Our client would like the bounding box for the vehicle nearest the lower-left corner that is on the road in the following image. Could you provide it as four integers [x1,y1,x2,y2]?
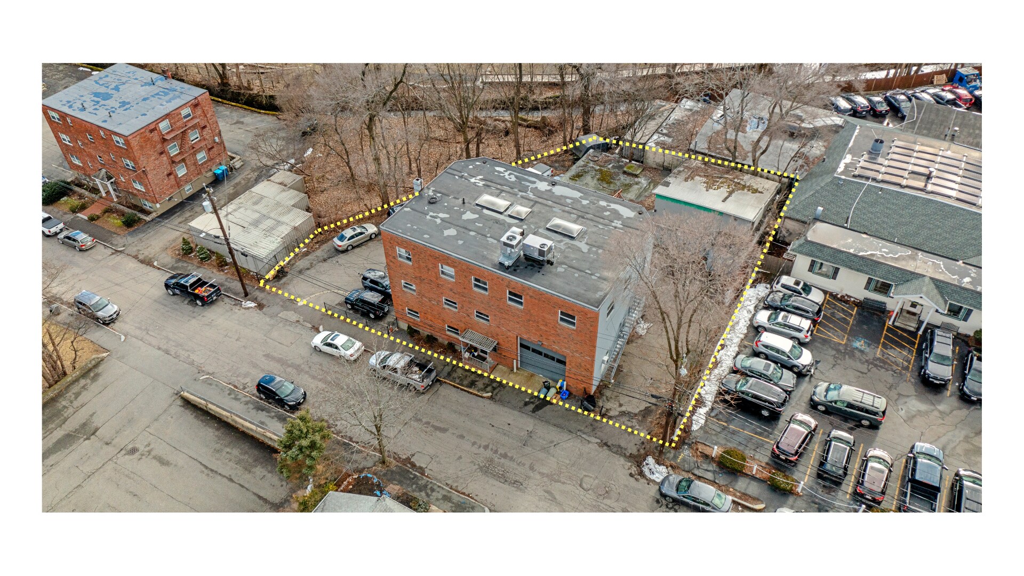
[72,291,122,324]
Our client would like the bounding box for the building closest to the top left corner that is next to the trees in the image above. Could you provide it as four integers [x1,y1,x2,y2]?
[42,63,229,214]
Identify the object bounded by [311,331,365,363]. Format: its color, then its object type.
white car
